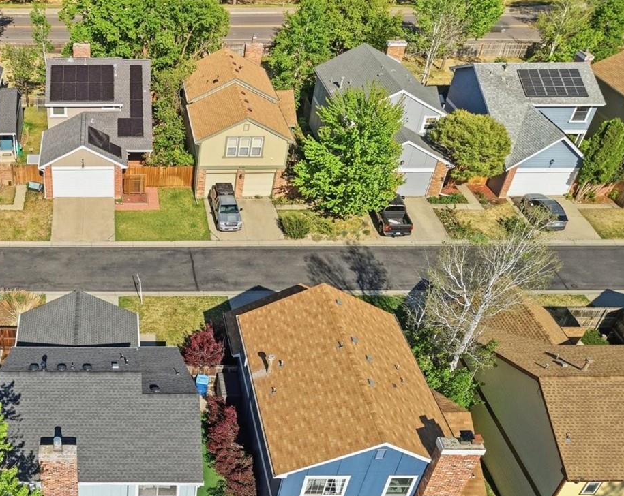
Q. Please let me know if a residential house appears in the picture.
Yes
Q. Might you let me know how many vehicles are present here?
three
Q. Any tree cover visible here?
Yes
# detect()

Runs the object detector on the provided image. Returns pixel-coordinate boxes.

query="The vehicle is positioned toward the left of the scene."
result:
[212,184,244,227]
